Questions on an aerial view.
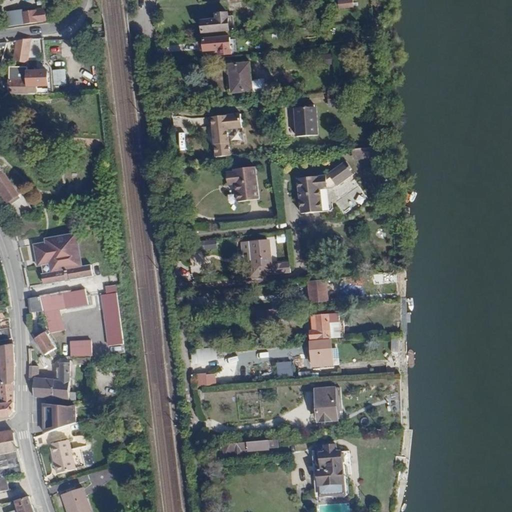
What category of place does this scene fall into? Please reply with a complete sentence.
It's a residential area.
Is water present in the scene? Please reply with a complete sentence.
Yes, some water is visible.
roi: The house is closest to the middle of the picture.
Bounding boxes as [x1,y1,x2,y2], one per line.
[241,238,272,284]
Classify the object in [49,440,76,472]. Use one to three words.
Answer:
house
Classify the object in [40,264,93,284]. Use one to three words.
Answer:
shed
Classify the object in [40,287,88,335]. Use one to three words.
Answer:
building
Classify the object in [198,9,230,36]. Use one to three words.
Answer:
house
